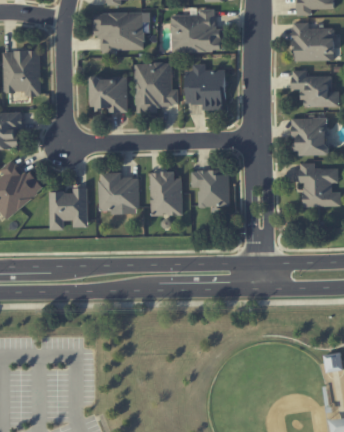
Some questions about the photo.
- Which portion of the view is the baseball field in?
bottom right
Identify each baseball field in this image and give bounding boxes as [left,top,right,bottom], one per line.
[208,342,330,432]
